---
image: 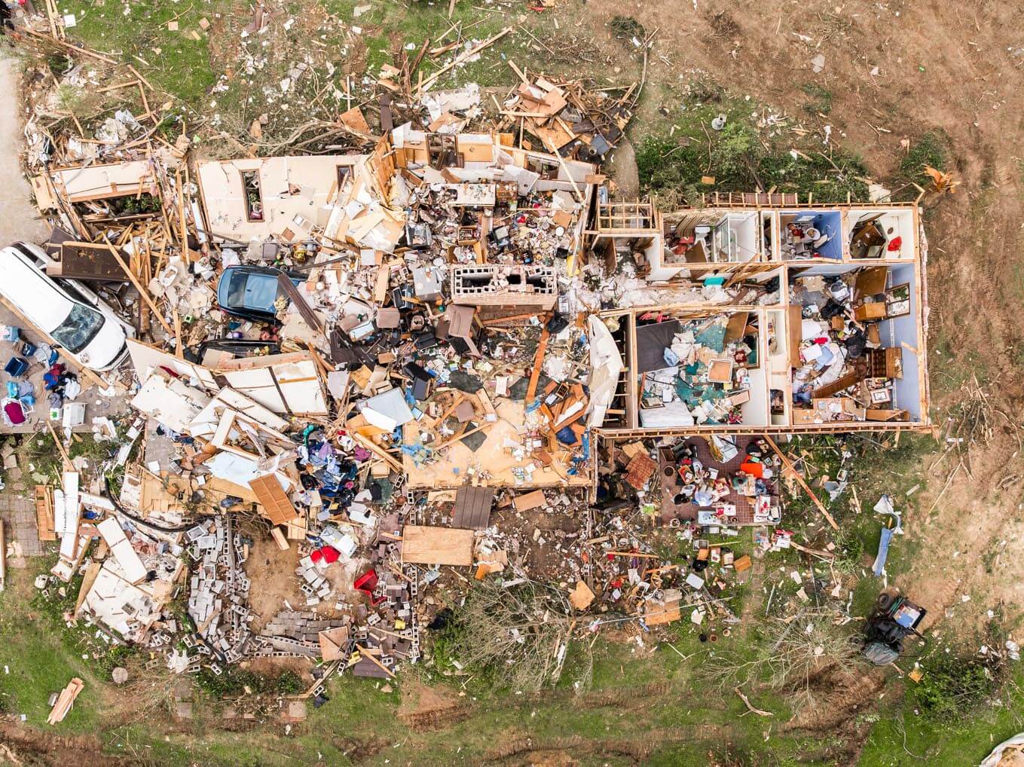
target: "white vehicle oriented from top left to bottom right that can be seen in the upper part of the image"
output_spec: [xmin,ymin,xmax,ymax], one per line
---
[0,235,141,370]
